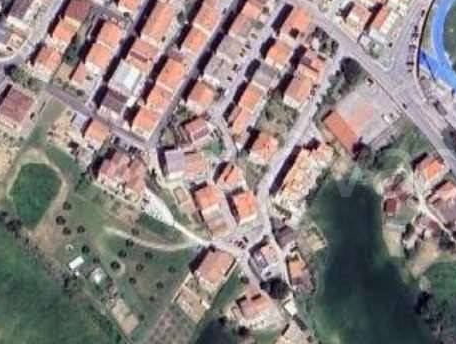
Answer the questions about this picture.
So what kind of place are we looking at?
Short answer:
residential area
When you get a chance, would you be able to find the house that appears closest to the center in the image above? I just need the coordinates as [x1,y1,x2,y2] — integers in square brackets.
[212,161,246,196]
